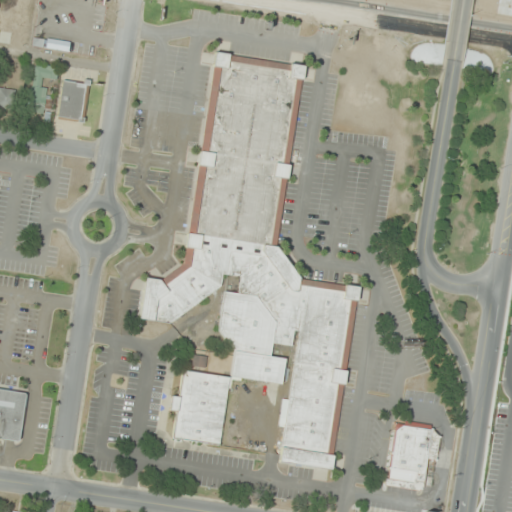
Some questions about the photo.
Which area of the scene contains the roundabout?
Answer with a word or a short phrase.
left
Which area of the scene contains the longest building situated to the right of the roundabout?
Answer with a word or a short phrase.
center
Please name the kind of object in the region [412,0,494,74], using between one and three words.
overpass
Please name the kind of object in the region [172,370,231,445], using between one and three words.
building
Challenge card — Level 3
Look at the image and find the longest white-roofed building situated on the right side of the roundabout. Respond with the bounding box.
[142,52,362,470]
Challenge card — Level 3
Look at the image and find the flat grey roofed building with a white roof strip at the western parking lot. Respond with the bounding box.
[0,388,30,441]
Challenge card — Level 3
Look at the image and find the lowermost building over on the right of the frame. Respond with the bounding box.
[386,422,442,490]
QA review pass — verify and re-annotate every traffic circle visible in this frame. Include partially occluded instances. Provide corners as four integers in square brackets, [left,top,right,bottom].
[68,198,126,254]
